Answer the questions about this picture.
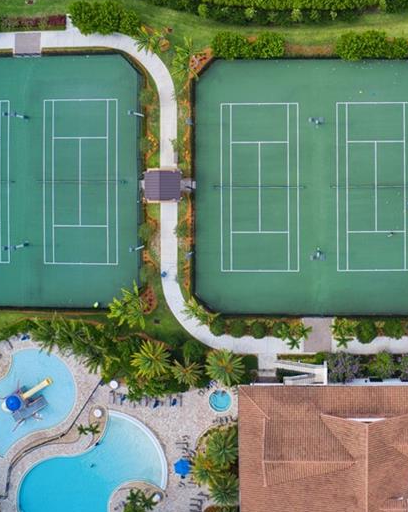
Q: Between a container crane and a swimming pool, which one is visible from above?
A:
swimming pool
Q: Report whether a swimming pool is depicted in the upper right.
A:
No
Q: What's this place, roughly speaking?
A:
sports ground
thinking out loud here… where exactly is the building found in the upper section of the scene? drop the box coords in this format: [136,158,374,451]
[144,168,185,204]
